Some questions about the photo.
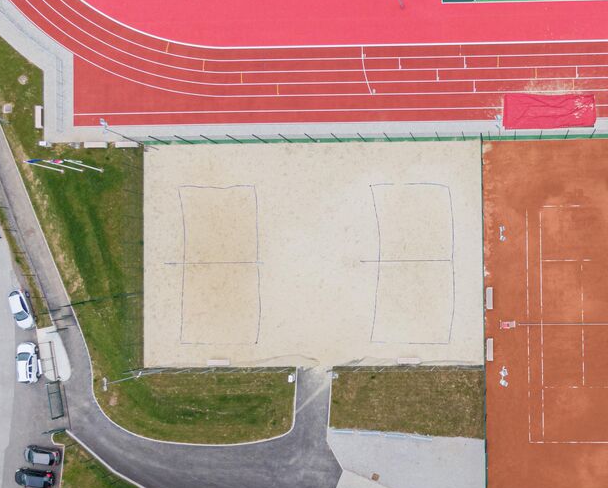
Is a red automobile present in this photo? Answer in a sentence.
No, no red automobile can be seen from above.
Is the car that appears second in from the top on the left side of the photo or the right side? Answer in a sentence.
The car that appears second in from the top appears in the left half of the scene.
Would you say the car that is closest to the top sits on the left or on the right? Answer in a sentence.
You can find the car that is closest to the top on the left side of the picture.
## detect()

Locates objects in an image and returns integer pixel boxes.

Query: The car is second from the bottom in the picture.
[24,446,61,466]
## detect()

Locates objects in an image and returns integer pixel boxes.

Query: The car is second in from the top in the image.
[13,342,40,383]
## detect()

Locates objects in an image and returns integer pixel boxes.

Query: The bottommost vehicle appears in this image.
[15,468,56,488]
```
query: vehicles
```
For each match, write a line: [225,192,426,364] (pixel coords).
[13,342,40,383]
[6,290,36,331]
[15,468,56,488]
[24,446,61,466]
